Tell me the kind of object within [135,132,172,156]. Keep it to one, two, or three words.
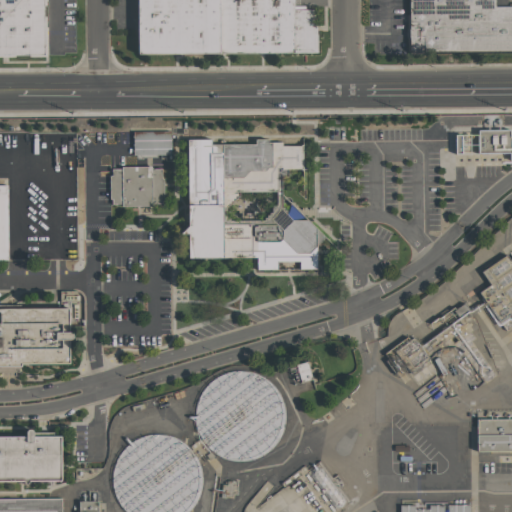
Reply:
shed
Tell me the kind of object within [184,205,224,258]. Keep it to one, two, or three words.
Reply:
building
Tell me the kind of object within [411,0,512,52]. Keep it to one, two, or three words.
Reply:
building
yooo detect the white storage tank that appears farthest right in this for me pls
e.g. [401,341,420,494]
[193,369,287,463]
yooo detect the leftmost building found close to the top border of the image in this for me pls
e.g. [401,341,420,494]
[0,0,48,58]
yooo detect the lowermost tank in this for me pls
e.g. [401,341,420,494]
[111,432,206,512]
